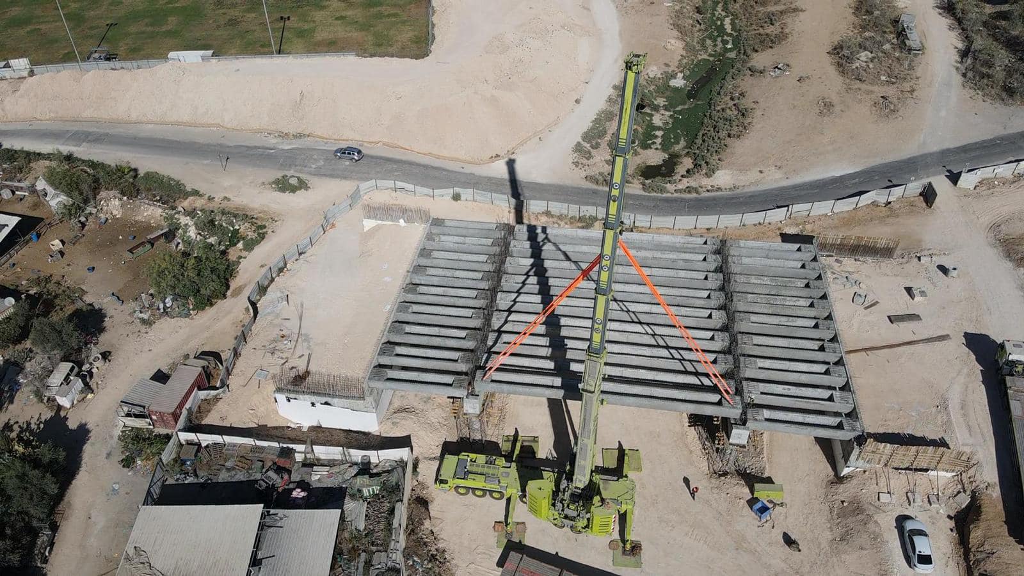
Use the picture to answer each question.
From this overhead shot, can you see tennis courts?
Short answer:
No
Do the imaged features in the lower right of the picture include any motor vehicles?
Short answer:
Yes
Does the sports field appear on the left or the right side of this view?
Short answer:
left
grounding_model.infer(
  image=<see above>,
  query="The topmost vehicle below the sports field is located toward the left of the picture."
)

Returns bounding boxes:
[332,144,364,160]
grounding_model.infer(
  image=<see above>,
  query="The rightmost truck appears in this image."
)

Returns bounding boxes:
[995,339,1024,499]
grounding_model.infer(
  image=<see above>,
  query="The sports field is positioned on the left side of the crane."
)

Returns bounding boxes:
[0,0,428,70]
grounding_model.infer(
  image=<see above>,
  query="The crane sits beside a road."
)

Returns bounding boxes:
[428,49,651,556]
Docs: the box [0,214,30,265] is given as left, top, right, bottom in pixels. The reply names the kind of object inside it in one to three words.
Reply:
shed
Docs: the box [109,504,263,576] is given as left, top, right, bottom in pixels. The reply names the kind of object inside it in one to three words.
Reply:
shed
